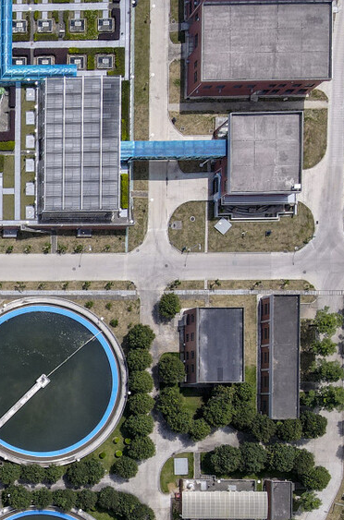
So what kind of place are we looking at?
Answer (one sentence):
The picture captures an industrial area.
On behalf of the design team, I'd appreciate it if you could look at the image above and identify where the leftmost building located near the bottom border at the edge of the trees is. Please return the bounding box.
[174,479,257,518]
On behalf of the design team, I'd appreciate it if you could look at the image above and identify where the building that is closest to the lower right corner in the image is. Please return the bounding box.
[260,481,293,520]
